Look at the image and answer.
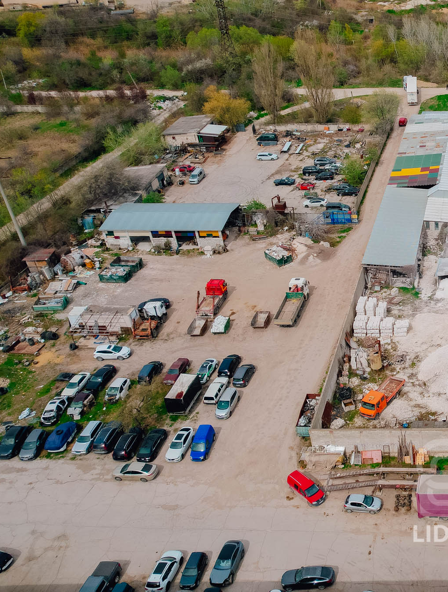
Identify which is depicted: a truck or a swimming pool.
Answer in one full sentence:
Looking from above, you can make out a truck.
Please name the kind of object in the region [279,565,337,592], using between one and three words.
car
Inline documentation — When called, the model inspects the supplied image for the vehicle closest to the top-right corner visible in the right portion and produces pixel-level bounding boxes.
[407,75,424,102]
